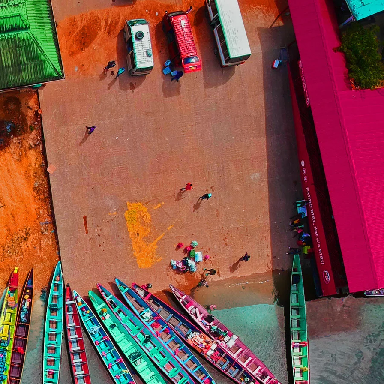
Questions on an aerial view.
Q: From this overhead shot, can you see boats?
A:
Yes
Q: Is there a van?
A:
Yes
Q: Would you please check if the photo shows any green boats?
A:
Yes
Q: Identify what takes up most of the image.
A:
paved ground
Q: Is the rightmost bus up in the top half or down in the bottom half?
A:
top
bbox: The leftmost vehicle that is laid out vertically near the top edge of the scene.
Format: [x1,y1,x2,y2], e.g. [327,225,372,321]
[122,18,152,76]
